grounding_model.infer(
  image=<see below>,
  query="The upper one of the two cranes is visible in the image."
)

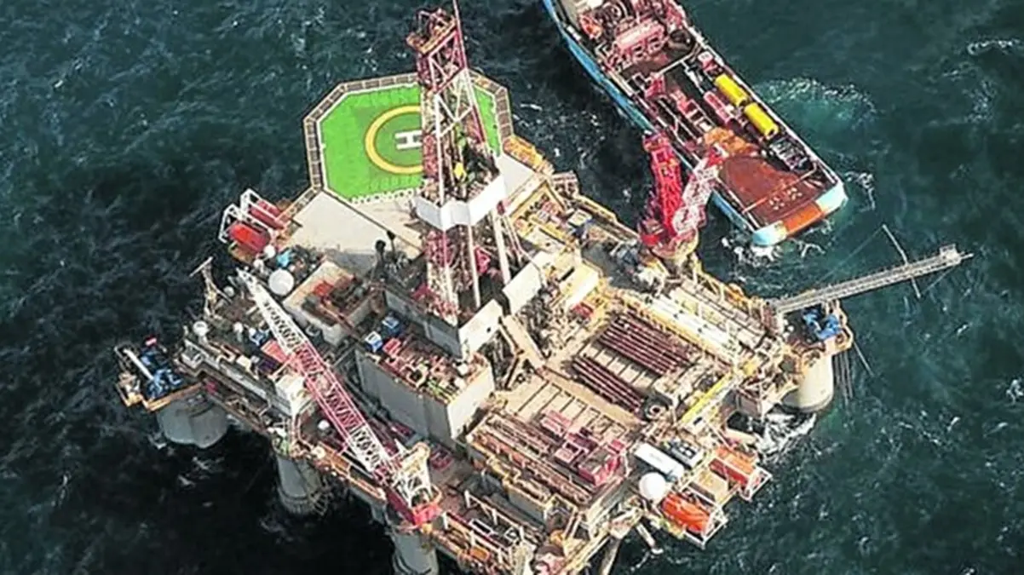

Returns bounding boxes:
[642,139,722,296]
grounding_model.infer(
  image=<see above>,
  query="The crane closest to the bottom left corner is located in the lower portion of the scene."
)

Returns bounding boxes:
[230,268,458,542]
